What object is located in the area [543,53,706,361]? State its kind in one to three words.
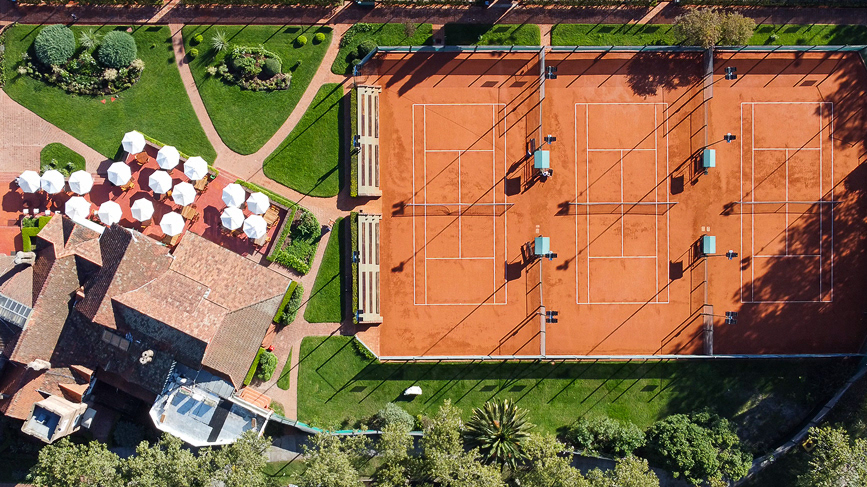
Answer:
tennis court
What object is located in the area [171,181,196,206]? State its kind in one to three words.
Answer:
umbrella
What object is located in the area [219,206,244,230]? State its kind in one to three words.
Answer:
umbrella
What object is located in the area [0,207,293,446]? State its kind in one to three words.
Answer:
building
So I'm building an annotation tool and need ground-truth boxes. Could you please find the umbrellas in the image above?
[107,162,131,186]
[221,182,246,207]
[219,206,244,230]
[64,196,89,220]
[242,215,266,239]
[121,130,146,154]
[184,156,207,180]
[148,169,173,194]
[160,212,184,235]
[69,170,92,195]
[130,196,156,221]
[171,181,196,206]
[16,169,41,193]
[246,191,270,215]
[157,145,180,169]
[41,169,65,193]
[97,201,123,225]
